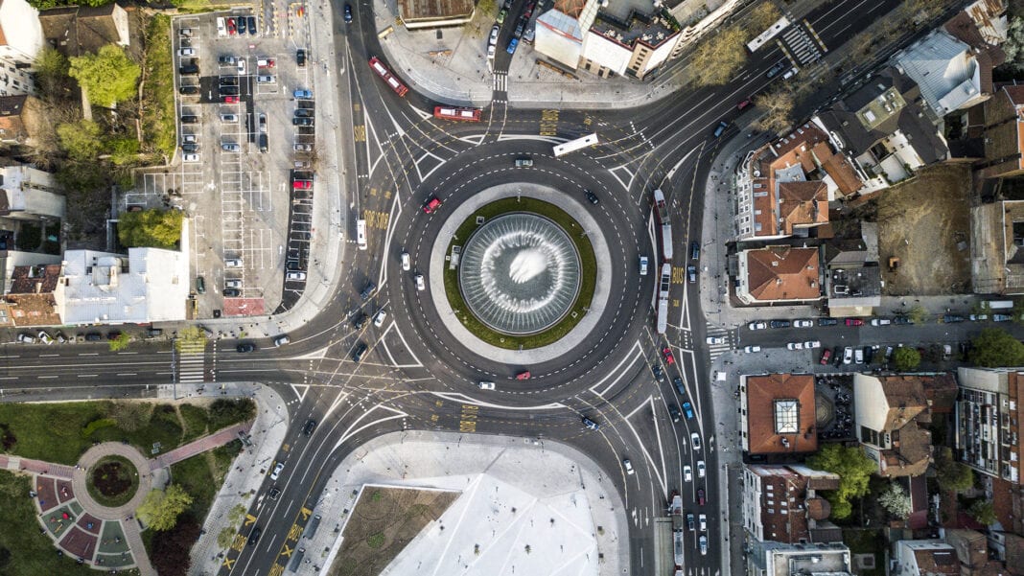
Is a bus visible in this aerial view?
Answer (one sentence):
Yes, a bus can be made out from above.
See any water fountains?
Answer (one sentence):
Yes, a water fountain is visible in the scene.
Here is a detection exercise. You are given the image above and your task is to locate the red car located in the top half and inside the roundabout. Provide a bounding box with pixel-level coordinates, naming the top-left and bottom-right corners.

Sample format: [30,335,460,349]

[422,197,440,212]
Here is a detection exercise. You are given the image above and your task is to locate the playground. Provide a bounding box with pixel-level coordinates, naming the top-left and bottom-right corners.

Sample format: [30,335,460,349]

[34,475,135,570]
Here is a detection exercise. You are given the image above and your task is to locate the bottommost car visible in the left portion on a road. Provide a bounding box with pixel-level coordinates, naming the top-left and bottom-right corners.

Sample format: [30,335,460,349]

[249,527,261,544]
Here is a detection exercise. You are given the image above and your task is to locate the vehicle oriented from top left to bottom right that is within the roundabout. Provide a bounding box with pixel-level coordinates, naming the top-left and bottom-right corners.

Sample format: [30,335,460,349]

[583,189,599,206]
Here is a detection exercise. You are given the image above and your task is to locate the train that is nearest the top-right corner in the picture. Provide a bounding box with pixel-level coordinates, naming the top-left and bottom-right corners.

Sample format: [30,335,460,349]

[653,189,672,259]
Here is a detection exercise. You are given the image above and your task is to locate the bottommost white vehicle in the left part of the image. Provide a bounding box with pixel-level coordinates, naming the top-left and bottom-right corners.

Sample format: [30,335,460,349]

[271,462,284,480]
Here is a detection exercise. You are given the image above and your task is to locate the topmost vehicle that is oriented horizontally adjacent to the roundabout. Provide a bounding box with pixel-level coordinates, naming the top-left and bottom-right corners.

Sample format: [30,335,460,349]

[433,107,488,121]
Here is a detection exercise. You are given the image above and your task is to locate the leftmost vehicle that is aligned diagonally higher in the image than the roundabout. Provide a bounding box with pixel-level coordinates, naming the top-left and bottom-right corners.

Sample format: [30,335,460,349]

[369,56,410,99]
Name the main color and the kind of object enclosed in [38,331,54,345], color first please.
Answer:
white car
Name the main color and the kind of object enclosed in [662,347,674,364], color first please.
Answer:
red vehicle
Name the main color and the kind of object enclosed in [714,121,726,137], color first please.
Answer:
blue vehicle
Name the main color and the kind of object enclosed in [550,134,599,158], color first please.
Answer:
white bus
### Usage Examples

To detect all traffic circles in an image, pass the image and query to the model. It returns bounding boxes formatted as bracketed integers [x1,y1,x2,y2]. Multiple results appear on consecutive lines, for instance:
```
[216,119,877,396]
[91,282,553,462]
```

[385,140,655,409]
